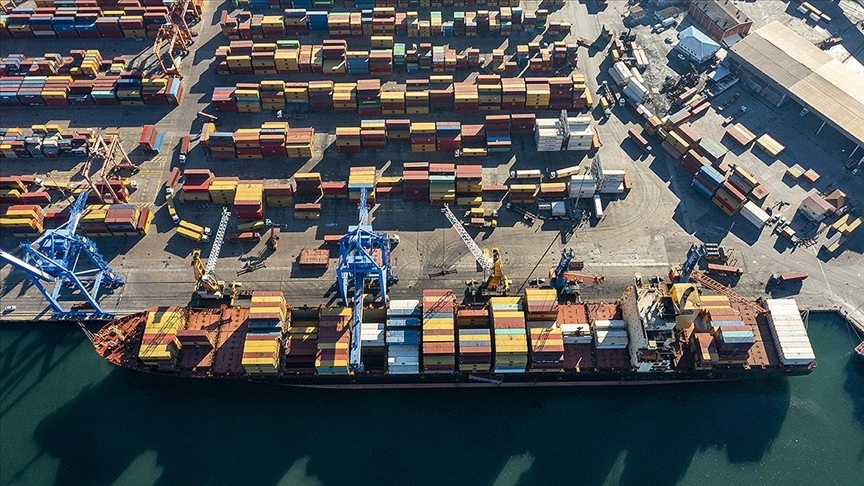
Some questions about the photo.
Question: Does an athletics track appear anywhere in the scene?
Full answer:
No, I find no athletics track anywhere in the image.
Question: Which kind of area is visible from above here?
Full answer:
The area seen from above is a port.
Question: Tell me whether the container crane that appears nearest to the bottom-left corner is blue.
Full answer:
Yes, the container crane that appears nearest to the bottom-left corner is blue.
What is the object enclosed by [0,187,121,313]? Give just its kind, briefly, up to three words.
container crane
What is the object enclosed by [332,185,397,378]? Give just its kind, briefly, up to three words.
container crane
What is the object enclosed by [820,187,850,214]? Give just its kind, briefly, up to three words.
house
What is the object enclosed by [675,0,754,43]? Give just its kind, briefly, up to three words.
building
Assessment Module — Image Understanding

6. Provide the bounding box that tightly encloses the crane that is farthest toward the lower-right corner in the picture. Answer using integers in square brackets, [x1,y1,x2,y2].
[646,237,778,321]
